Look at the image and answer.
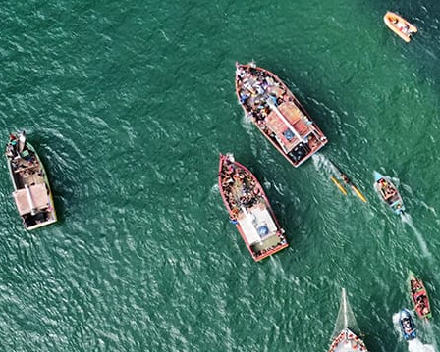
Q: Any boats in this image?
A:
Yes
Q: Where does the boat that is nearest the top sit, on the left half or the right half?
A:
right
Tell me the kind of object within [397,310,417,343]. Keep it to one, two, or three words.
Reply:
boat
